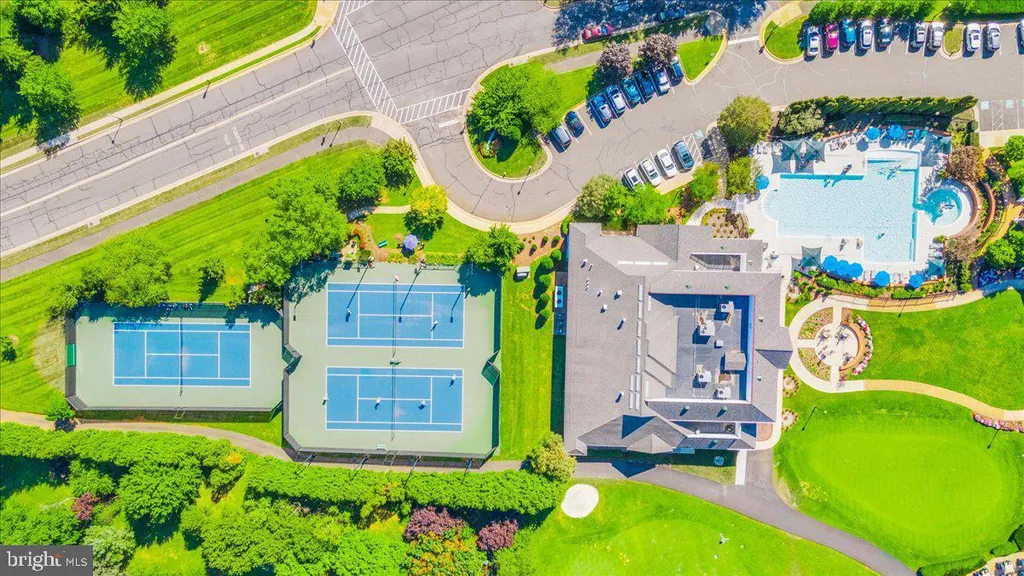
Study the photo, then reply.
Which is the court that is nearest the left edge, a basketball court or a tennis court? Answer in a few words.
tennis court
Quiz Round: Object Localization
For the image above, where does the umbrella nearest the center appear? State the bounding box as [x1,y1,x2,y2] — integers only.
[404,234,419,249]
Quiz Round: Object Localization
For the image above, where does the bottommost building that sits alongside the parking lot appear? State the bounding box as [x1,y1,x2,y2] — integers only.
[562,222,793,455]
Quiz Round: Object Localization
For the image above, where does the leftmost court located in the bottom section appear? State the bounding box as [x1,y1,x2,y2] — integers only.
[76,304,285,408]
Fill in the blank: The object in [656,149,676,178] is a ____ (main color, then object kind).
white car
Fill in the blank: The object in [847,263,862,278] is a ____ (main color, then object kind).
blue umbrella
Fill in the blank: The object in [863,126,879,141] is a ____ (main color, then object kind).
blue umbrella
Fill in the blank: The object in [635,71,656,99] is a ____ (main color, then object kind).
blue car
